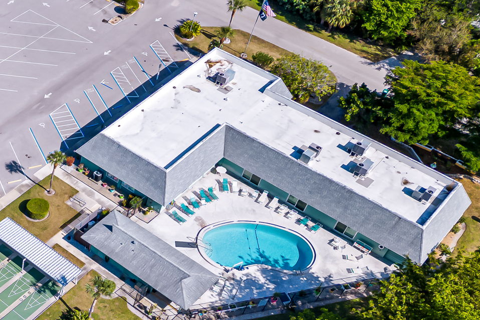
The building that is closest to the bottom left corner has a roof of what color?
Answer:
white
